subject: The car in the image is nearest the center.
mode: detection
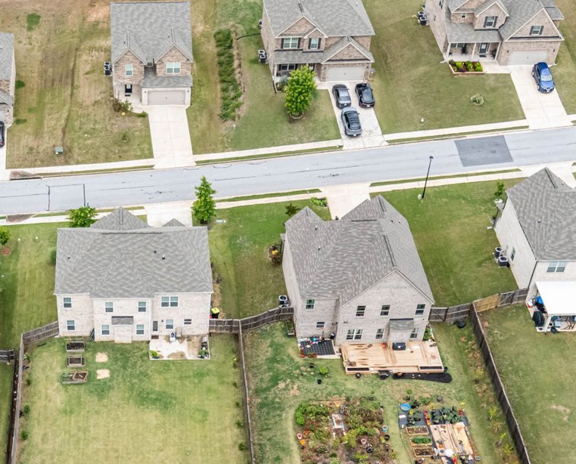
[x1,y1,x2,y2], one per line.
[343,109,363,133]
